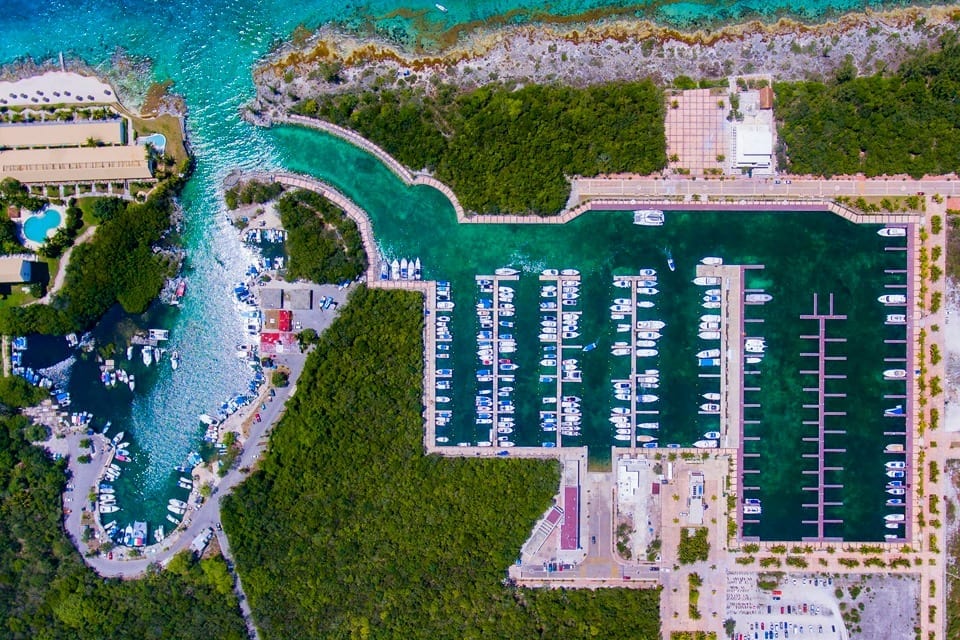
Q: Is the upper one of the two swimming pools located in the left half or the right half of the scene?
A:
left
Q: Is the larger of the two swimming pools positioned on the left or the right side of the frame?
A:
left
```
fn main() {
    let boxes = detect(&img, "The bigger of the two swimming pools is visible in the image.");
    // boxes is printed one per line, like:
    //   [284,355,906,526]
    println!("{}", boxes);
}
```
[17,203,68,250]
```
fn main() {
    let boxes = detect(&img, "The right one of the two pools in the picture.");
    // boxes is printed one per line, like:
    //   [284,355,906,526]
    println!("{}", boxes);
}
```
[136,133,168,156]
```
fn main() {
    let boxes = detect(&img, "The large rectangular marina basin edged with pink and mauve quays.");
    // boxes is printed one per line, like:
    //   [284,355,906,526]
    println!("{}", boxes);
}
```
[274,120,922,549]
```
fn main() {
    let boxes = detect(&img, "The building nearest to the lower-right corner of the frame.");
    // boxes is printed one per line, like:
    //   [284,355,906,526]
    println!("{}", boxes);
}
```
[688,472,704,524]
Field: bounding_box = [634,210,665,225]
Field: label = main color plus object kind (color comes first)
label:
white boat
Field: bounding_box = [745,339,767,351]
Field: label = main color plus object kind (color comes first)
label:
white boat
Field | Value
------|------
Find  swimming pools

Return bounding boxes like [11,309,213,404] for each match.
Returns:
[17,203,68,250]
[136,133,168,156]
